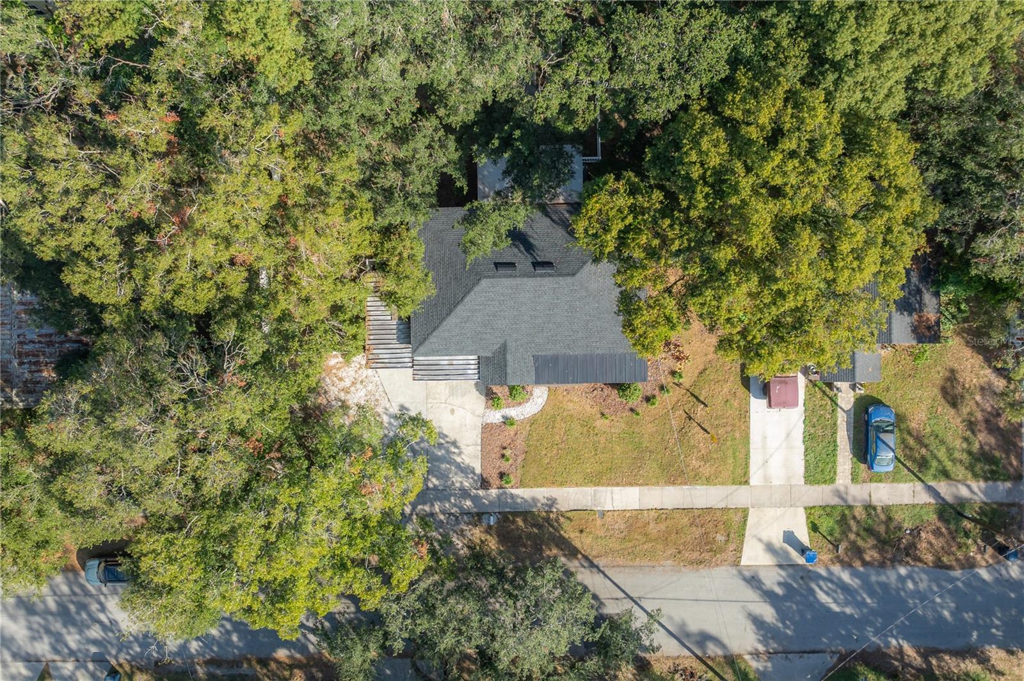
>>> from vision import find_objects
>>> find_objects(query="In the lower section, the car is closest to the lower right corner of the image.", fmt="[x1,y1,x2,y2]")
[861,403,899,473]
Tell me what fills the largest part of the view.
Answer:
trees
